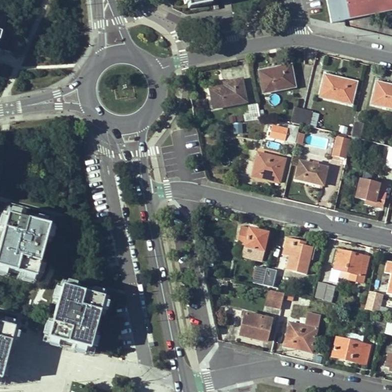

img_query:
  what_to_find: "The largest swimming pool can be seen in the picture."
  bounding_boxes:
[305,134,328,150]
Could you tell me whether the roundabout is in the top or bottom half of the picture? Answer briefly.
top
